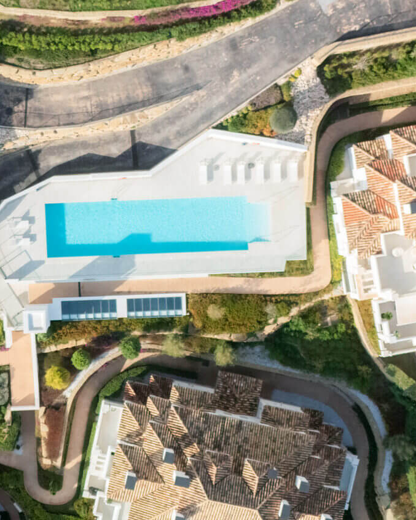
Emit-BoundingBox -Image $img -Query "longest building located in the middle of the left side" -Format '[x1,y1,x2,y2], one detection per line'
[30,284,187,322]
